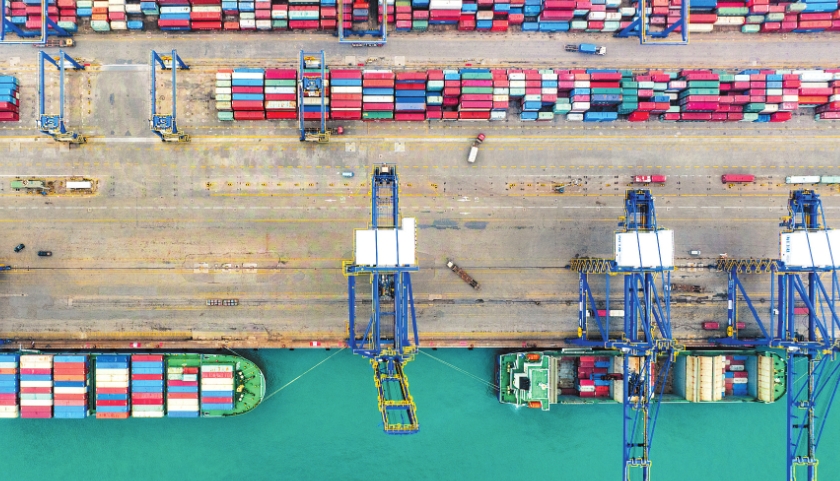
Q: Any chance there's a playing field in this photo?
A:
No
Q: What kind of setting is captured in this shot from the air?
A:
port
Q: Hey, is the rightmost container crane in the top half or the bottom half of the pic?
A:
bottom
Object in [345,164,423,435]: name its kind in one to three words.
container crane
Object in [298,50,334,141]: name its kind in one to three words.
container crane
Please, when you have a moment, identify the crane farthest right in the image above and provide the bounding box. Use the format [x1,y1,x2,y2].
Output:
[701,190,840,481]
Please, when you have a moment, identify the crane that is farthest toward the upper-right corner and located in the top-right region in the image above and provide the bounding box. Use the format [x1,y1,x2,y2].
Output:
[618,0,687,44]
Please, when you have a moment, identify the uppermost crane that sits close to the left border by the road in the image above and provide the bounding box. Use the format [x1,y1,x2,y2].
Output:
[1,0,69,44]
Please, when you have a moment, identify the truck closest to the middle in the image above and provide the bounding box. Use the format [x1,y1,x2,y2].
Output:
[445,259,478,289]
